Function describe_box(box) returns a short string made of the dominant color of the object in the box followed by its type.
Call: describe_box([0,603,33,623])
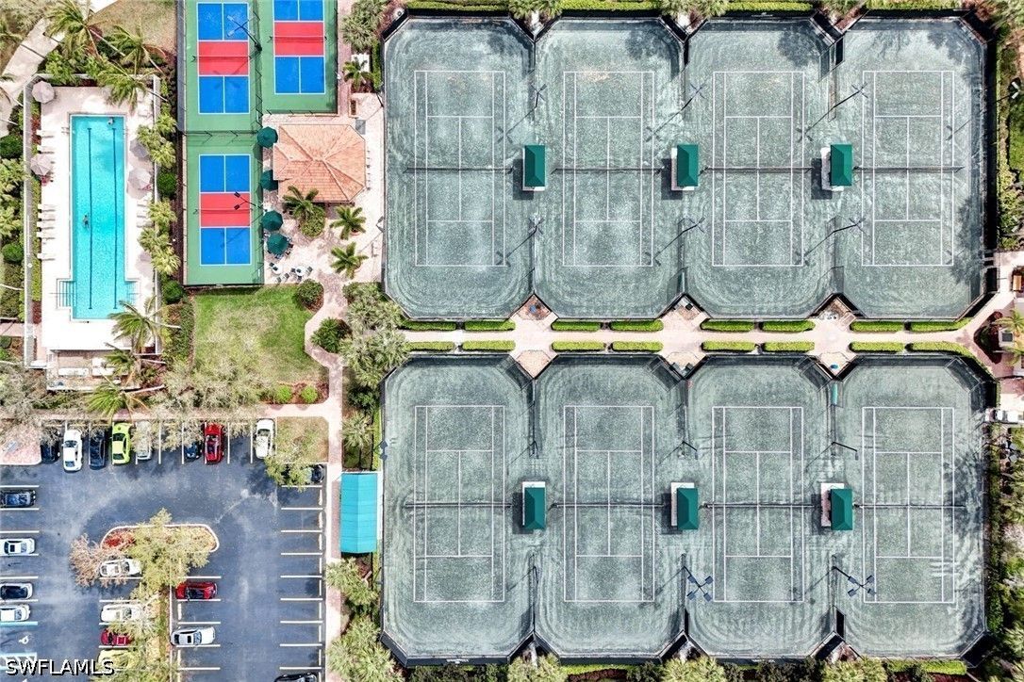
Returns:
white car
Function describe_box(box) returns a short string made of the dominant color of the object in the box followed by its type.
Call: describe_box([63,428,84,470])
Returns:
white car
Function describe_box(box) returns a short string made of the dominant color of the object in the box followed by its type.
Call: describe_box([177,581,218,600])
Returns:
red car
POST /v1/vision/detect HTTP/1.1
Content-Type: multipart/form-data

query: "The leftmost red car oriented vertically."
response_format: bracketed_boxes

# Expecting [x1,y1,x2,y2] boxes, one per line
[204,423,224,464]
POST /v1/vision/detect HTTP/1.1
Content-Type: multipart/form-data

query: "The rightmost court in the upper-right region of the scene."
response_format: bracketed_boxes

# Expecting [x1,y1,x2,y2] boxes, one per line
[834,18,984,318]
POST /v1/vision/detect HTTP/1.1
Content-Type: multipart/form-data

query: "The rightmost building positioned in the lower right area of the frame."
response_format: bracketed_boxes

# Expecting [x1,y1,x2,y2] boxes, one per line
[822,484,851,530]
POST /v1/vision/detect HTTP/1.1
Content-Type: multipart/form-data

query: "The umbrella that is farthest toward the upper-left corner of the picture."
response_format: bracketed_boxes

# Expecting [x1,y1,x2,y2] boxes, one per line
[35,82,57,105]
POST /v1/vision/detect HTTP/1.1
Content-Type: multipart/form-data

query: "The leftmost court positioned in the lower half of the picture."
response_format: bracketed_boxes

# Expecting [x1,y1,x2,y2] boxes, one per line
[384,354,534,656]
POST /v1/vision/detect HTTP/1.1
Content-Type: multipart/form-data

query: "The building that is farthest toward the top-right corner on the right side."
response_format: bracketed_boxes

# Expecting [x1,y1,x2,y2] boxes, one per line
[822,143,851,190]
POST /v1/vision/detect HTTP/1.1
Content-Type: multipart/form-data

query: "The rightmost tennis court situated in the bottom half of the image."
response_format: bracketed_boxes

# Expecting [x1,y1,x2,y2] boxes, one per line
[834,354,984,656]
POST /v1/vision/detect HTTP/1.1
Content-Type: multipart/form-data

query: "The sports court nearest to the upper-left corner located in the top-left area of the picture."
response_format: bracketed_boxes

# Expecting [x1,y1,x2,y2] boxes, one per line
[185,0,262,131]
